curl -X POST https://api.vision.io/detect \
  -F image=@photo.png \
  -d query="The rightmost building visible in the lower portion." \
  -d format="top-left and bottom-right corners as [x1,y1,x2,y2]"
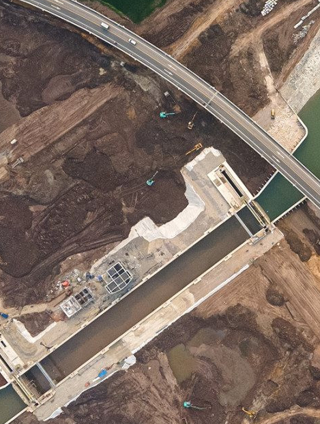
[106,262,133,293]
